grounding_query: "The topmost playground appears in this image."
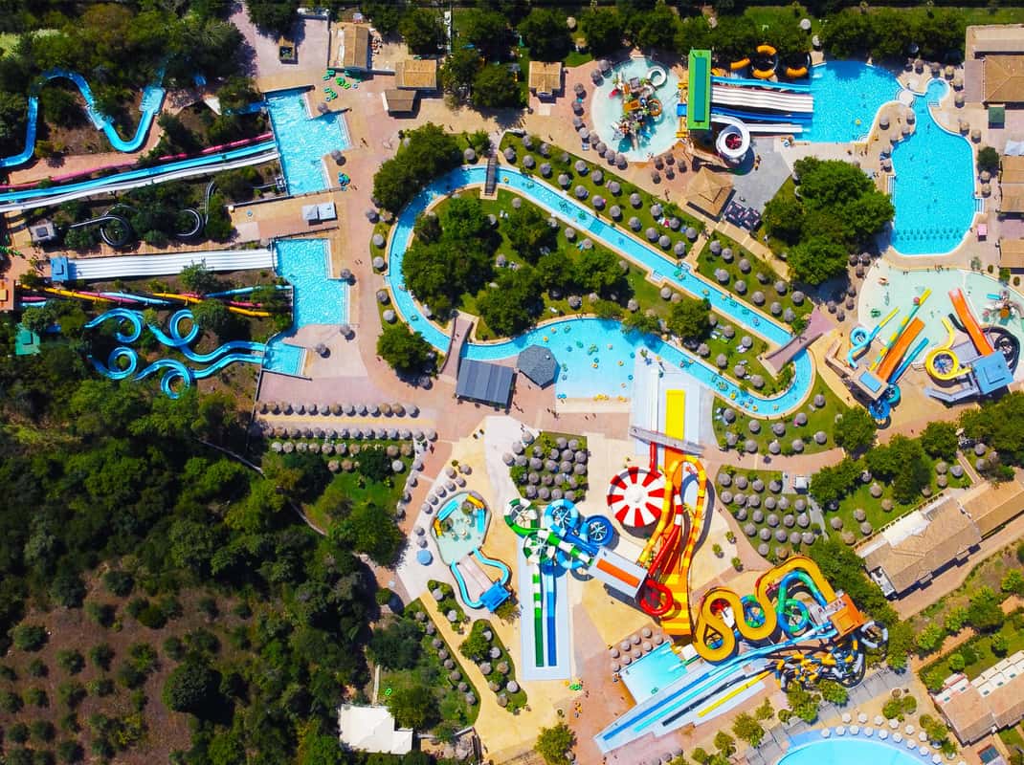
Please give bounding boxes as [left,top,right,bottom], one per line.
[603,70,665,147]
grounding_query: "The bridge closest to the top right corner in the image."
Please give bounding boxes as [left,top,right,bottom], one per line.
[766,307,828,374]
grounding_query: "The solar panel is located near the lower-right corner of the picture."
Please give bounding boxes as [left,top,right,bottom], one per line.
[977,744,1001,765]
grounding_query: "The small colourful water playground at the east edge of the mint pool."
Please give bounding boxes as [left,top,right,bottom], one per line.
[988,292,1024,325]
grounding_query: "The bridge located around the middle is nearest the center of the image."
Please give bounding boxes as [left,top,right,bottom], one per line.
[439,317,473,378]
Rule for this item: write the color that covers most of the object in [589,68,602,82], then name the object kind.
gray umbrella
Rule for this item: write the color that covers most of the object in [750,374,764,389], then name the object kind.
gray umbrella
